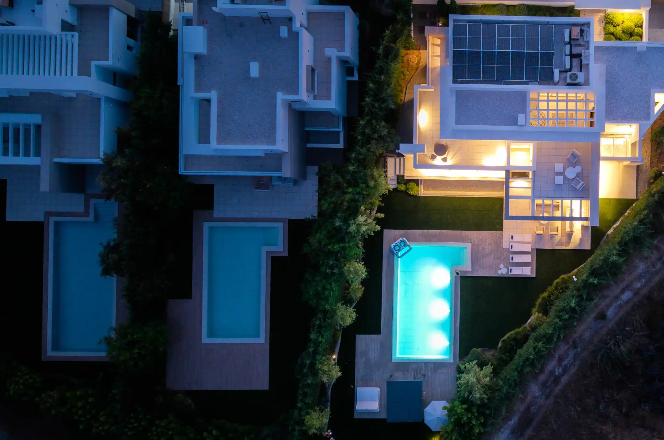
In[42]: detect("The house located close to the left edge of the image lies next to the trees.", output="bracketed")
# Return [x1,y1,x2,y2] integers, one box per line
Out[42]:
[0,0,144,193]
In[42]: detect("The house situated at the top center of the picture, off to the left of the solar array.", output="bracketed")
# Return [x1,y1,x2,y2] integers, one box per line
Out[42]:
[179,0,359,180]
